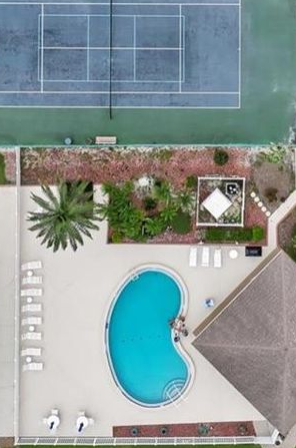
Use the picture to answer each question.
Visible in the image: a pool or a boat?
pool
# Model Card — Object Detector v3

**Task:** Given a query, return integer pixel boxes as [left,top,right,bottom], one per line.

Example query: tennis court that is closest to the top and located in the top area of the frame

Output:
[0,0,241,118]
